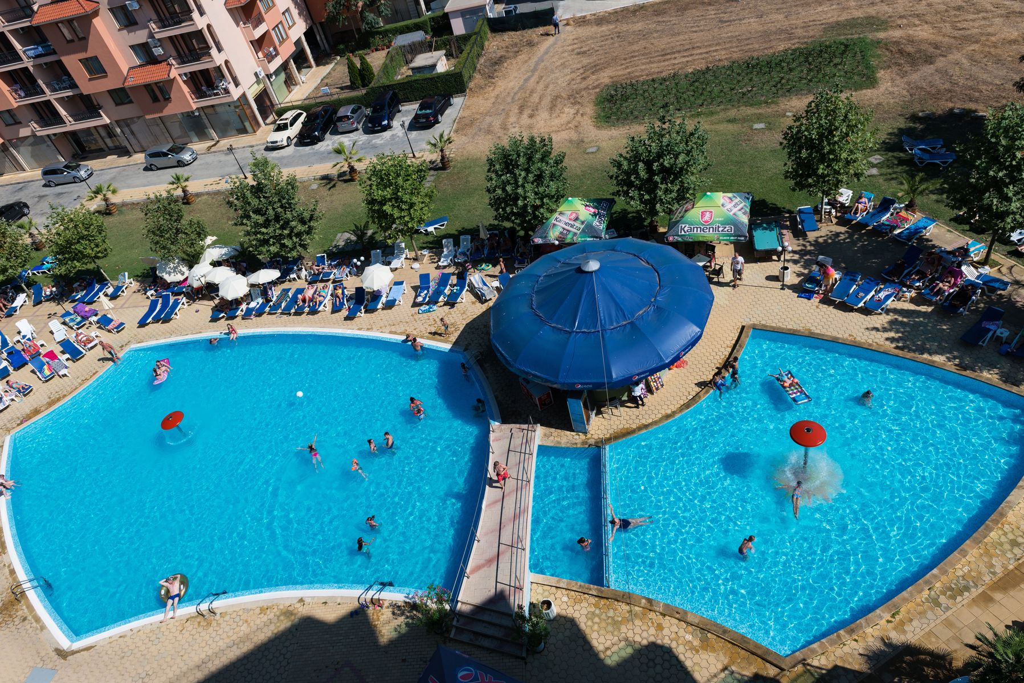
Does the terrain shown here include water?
Yes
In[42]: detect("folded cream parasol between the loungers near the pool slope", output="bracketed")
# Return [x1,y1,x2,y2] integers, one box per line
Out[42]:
[96,292,120,321]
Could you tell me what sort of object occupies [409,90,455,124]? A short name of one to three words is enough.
car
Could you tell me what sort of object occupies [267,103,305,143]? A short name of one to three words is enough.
car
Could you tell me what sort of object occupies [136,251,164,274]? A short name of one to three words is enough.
umbrella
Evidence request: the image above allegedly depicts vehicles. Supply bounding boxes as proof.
[298,100,335,136]
[0,199,29,222]
[267,103,305,143]
[34,155,92,183]
[409,90,455,124]
[362,83,401,126]
[138,137,196,166]
[328,98,367,128]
